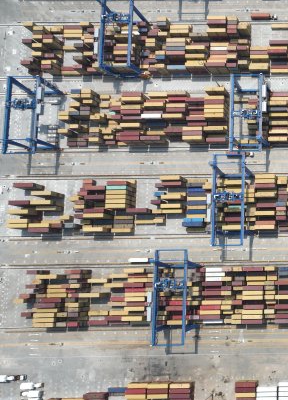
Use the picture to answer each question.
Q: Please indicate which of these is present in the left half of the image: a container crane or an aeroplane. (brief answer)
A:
container crane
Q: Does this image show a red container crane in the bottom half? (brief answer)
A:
No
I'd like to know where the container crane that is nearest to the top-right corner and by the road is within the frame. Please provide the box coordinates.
[229,74,273,151]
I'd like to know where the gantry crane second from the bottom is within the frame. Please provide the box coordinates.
[207,154,256,245]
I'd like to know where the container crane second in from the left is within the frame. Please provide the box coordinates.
[95,0,152,78]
